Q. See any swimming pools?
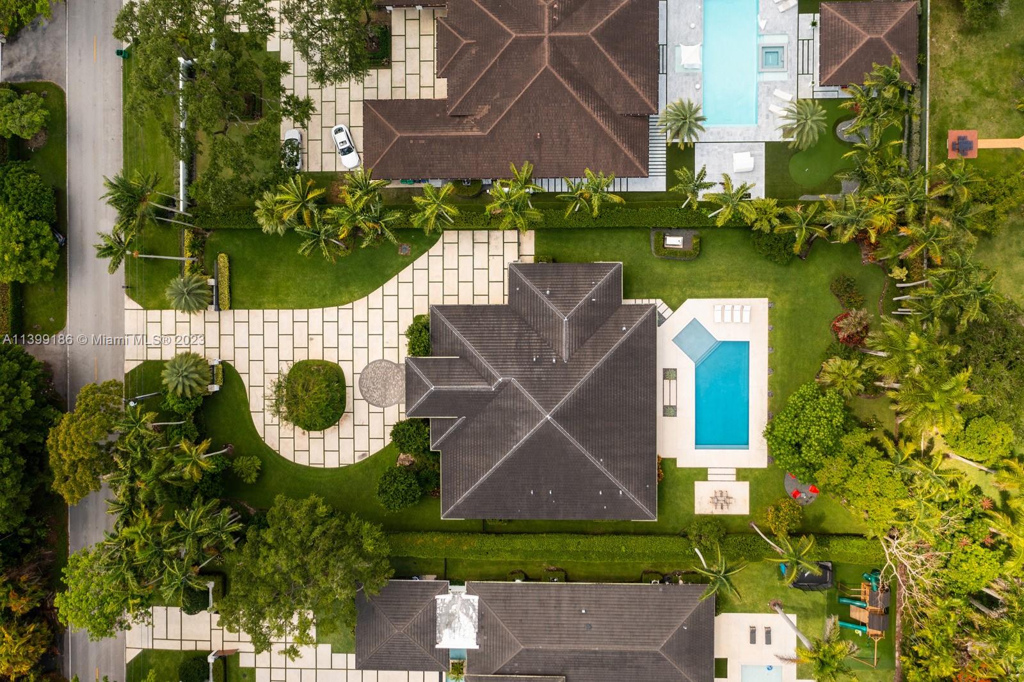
Yes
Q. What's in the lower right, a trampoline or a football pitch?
trampoline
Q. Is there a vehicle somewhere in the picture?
Yes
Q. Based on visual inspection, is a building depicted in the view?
Yes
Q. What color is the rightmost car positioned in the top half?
white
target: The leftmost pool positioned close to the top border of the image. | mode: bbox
[703,0,758,125]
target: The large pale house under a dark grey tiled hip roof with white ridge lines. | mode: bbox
[405,261,659,521]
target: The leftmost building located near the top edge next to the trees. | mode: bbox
[362,0,660,183]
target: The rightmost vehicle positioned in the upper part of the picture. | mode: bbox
[329,122,362,171]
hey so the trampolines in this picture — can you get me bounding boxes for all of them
[790,562,842,597]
